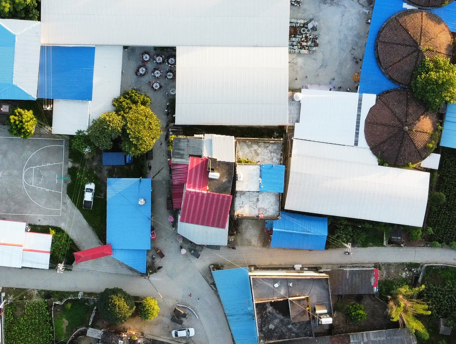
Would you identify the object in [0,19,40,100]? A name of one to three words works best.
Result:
building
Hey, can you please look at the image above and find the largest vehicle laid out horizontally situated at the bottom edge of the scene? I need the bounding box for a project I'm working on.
[172,327,195,340]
